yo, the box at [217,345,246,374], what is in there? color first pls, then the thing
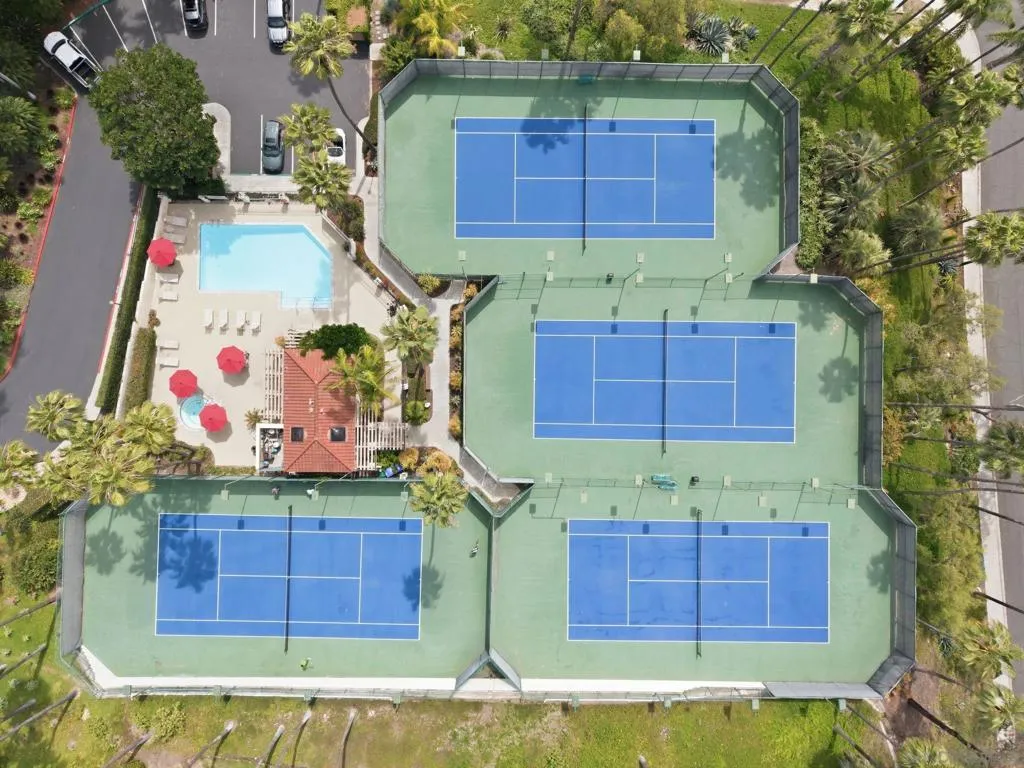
red umbrella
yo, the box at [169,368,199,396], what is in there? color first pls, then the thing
red umbrella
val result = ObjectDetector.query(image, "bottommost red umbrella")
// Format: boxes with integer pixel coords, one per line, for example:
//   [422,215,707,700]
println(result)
[199,403,228,432]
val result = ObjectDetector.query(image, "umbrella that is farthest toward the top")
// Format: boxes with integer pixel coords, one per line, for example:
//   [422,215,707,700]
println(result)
[148,238,179,267]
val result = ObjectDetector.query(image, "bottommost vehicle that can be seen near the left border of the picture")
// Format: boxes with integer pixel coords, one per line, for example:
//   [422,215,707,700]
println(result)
[46,35,99,93]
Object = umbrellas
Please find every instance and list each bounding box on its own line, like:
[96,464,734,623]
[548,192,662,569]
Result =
[148,238,179,267]
[217,345,246,374]
[199,403,228,432]
[169,368,199,396]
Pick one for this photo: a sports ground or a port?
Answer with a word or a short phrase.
sports ground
